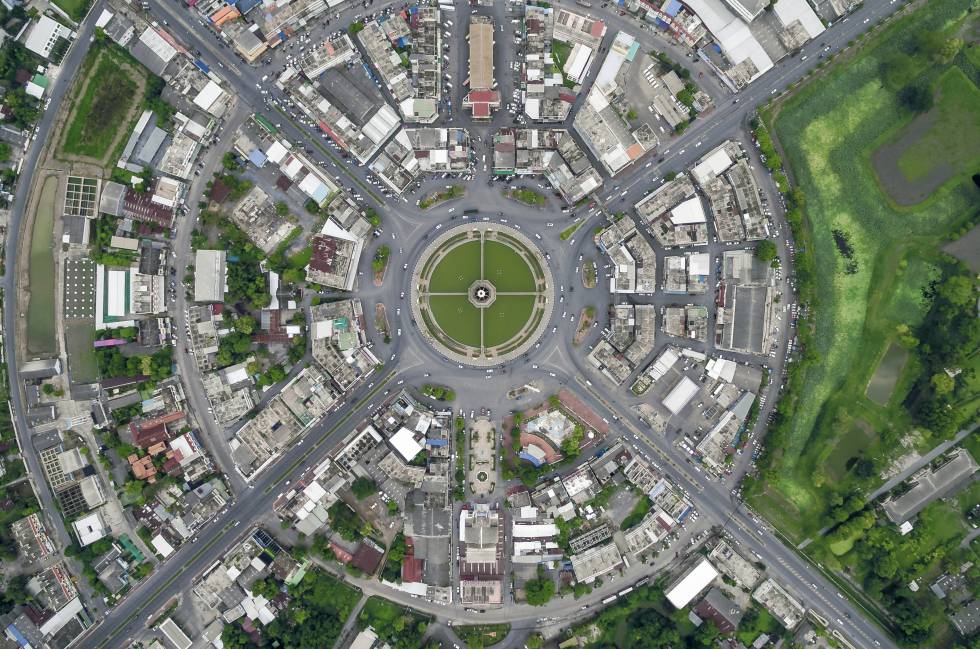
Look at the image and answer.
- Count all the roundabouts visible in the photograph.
one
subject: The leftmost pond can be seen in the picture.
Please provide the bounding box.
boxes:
[65,317,101,385]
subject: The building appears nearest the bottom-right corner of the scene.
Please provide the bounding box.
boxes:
[949,598,980,636]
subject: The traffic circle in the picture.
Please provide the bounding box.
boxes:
[411,222,553,366]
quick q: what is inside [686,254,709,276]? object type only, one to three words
shed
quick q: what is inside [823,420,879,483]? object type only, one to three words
pond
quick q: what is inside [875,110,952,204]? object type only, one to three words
pond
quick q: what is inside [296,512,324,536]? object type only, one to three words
building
